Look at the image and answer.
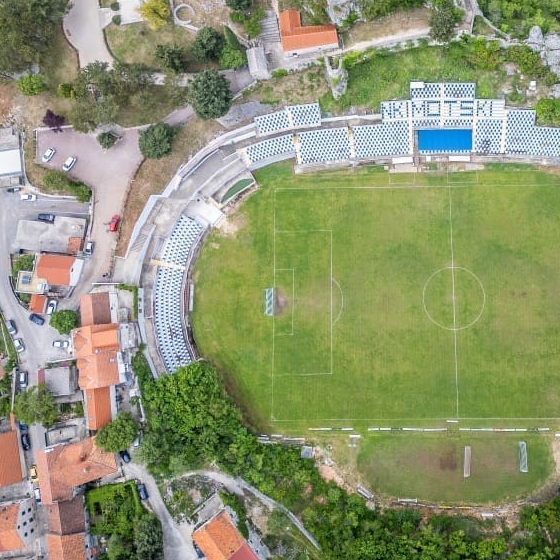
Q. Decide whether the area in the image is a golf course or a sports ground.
sports ground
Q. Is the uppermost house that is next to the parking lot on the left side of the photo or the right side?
left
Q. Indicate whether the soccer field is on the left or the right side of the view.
right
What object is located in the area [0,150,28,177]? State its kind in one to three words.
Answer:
house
